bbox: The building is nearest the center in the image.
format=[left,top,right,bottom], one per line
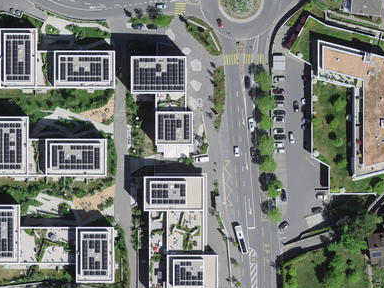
[156,112,194,144]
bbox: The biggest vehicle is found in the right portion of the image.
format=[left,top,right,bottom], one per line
[234,224,248,254]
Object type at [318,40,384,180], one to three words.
building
